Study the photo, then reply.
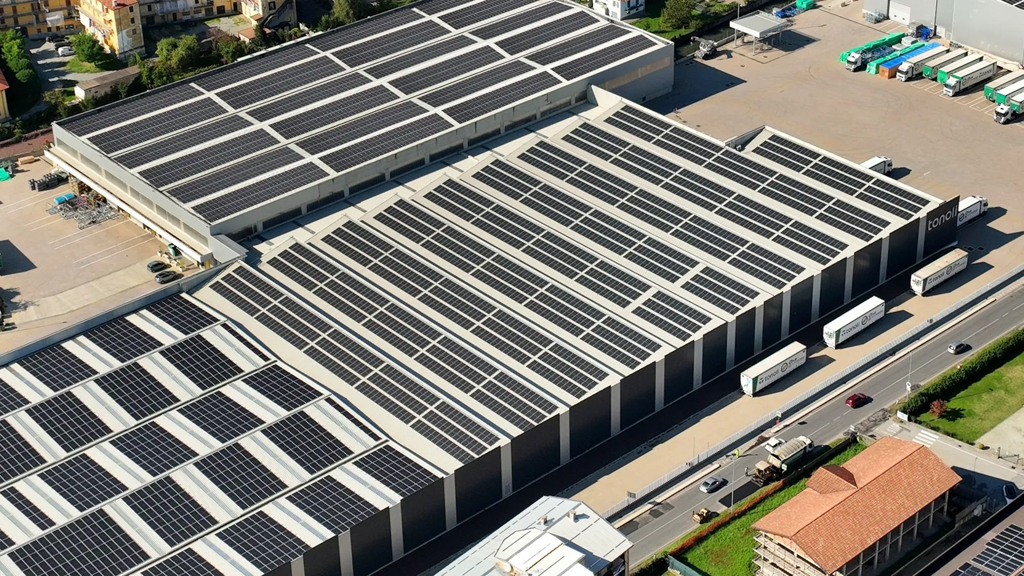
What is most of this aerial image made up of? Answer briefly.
buildings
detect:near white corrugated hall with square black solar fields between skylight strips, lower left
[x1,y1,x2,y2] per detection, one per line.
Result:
[0,292,451,576]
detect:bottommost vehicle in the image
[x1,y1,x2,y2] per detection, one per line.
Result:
[694,505,714,524]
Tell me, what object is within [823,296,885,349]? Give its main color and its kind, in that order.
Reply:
white trailer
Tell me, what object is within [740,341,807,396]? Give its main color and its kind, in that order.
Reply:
white trailer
